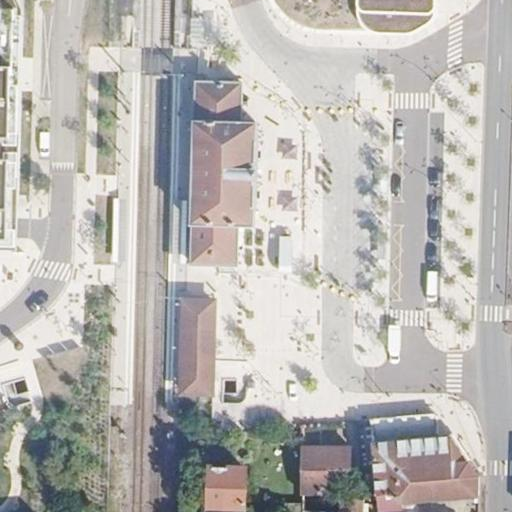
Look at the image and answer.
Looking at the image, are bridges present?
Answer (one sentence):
No, there isn't any bridge down there.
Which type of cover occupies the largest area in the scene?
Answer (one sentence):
The largest share of the image is taken up by paved ground.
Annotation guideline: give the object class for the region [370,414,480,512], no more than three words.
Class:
building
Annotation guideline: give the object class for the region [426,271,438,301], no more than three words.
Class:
vehicle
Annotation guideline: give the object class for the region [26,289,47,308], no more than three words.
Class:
car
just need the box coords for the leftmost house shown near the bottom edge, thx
[204,463,247,512]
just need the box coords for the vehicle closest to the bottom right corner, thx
[387,325,401,364]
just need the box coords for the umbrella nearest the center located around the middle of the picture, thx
[284,199,296,212]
